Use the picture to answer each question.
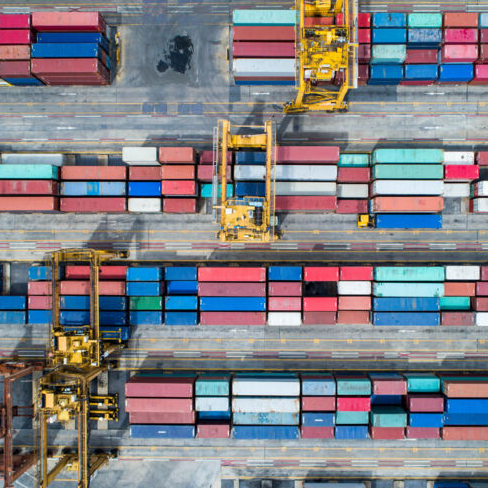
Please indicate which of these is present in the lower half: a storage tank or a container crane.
container crane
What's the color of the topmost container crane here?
yellow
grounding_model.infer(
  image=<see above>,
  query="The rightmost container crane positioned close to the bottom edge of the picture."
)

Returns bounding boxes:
[34,361,123,488]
